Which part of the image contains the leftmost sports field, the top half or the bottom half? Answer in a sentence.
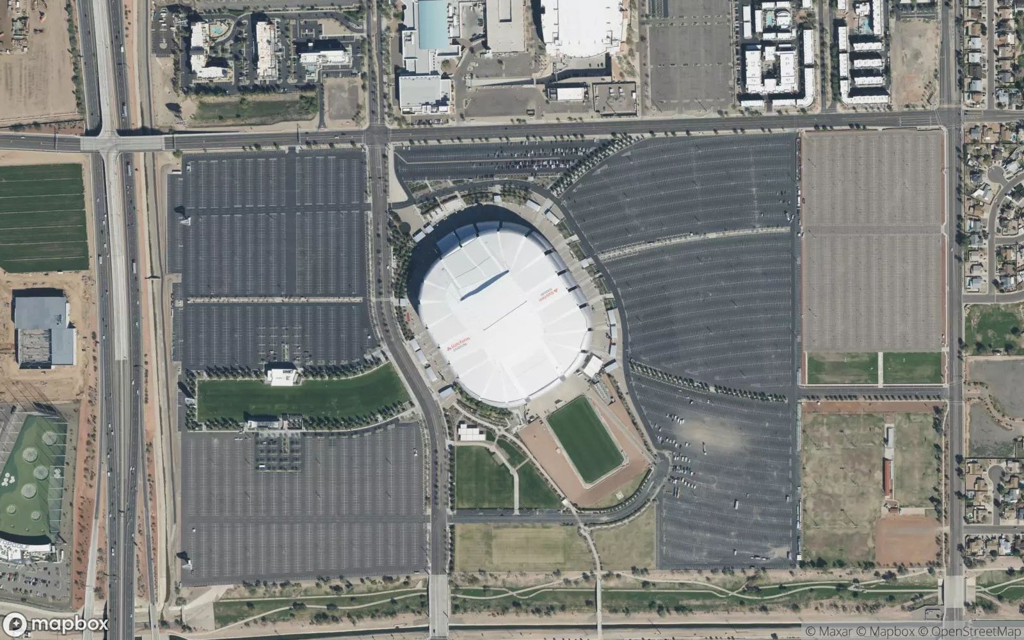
It is in the bottom half that the leftmost sports field appears.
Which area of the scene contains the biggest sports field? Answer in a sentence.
You can find the biggest sports field in the bottom right area of the picture.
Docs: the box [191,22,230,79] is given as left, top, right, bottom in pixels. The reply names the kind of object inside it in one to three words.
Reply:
building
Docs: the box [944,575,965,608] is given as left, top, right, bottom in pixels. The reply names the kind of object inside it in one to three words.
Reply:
bridge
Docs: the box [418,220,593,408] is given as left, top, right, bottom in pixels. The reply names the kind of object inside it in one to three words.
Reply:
stadium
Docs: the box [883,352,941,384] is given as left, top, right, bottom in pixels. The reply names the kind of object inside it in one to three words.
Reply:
sports field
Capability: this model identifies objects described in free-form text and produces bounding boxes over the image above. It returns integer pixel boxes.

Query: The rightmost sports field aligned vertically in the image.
[895,413,936,508]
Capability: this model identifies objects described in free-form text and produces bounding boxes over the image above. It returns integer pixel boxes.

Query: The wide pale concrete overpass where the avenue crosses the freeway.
[80,136,165,152]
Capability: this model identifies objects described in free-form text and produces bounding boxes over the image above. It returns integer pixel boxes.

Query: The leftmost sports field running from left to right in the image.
[808,352,878,384]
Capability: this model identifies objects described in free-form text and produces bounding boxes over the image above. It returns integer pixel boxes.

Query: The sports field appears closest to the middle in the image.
[547,396,623,483]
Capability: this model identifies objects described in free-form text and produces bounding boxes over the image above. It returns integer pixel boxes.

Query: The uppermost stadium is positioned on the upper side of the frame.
[542,0,626,57]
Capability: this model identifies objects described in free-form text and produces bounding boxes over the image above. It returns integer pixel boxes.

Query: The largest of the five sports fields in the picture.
[803,413,884,563]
